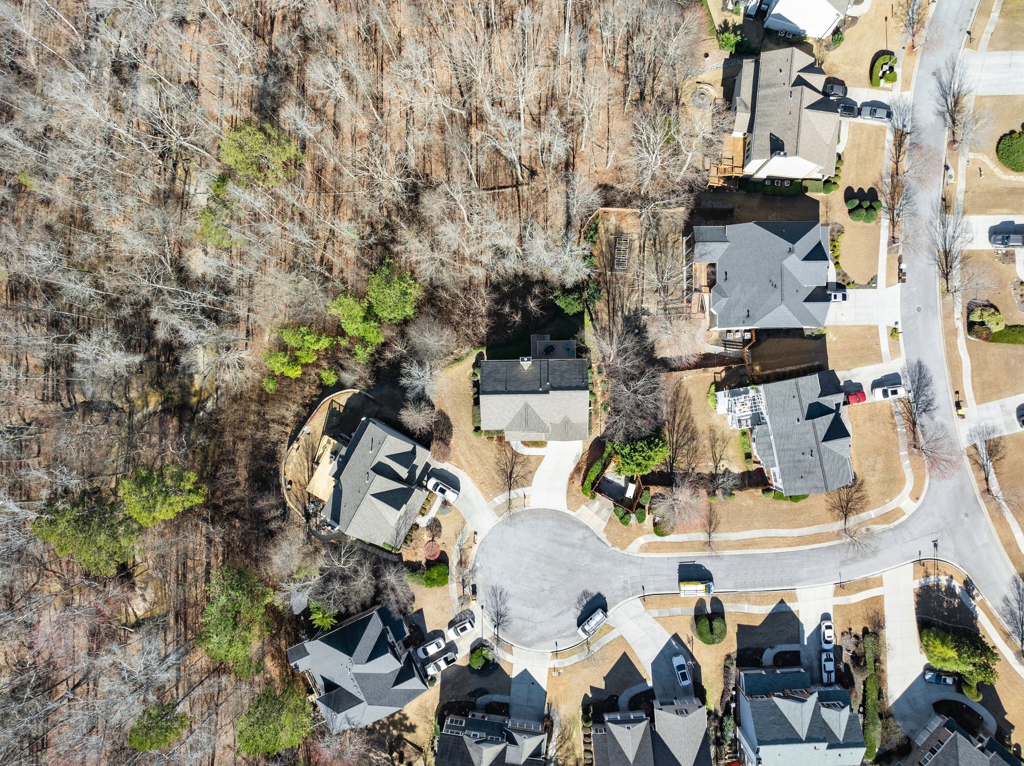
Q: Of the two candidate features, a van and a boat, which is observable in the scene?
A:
van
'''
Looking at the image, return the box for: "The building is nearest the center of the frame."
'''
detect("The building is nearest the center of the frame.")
[479,334,589,441]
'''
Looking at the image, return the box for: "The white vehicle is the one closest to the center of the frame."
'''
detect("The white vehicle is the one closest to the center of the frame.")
[427,478,459,504]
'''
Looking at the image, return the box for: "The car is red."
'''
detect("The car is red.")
[841,390,866,407]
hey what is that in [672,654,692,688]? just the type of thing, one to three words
car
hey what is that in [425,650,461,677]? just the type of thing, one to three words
truck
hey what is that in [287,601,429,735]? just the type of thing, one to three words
house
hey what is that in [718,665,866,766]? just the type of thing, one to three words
house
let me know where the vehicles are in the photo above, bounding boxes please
[576,606,611,640]
[838,101,861,119]
[672,654,692,688]
[427,478,459,504]
[678,579,715,597]
[822,81,848,98]
[419,636,448,658]
[819,618,835,650]
[989,232,1024,248]
[445,616,478,641]
[871,385,905,402]
[425,650,461,677]
[828,288,850,303]
[860,105,892,121]
[819,651,836,683]
[841,390,866,407]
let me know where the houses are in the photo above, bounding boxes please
[718,665,866,766]
[590,691,712,766]
[434,711,547,766]
[725,0,855,39]
[716,370,854,496]
[479,334,589,441]
[708,47,840,189]
[889,710,1024,766]
[688,221,831,332]
[304,418,430,549]
[287,601,429,735]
